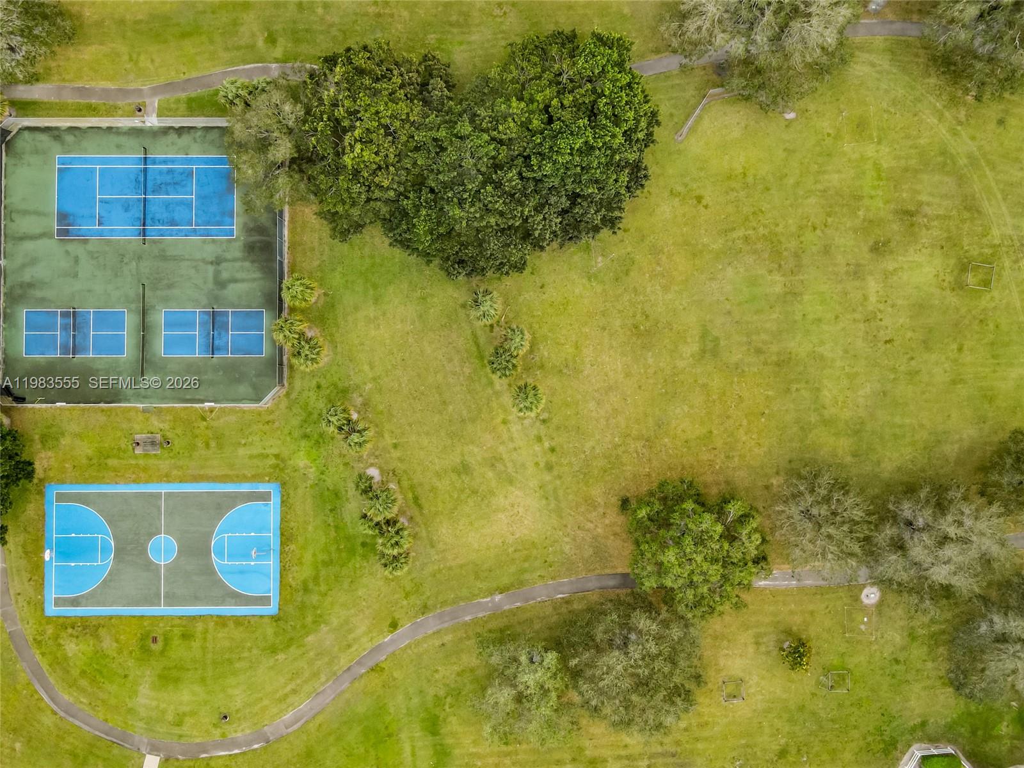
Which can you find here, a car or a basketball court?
basketball court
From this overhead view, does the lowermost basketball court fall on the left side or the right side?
left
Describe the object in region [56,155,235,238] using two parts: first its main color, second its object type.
blue tennis court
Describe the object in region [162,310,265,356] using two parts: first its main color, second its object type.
blue sports court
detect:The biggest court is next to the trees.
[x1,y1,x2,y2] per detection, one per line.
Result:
[1,123,288,408]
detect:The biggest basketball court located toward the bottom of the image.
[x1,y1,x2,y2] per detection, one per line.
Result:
[45,484,279,615]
